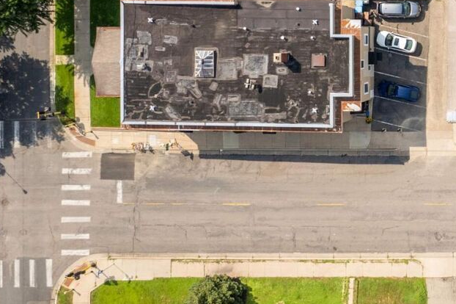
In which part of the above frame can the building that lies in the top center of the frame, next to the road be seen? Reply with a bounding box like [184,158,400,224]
[92,0,375,133]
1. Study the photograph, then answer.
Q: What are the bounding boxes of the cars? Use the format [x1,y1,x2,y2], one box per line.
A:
[378,80,420,101]
[376,31,417,53]
[377,0,419,20]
